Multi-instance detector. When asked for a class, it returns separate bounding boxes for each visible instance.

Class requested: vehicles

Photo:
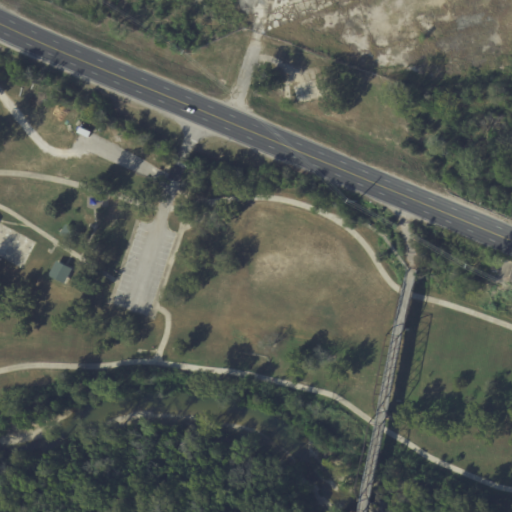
[76,126,92,136]
[186,106,196,113]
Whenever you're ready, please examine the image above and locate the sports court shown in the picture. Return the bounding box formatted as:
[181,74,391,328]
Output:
[0,220,36,280]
